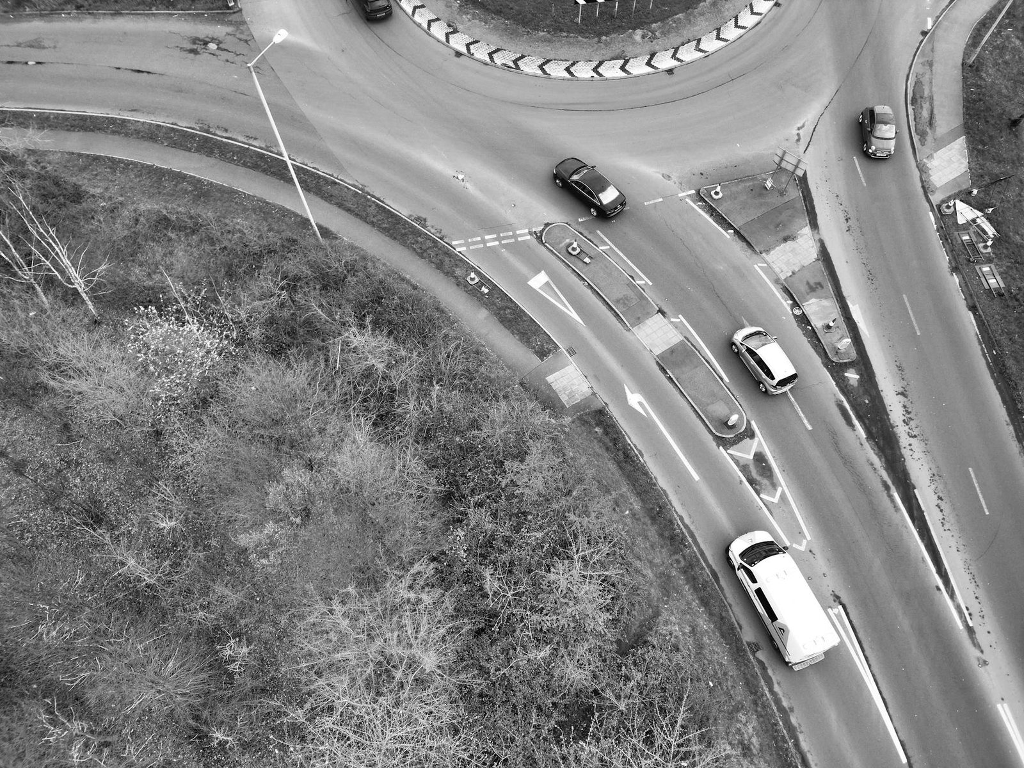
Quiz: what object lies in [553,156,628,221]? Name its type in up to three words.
car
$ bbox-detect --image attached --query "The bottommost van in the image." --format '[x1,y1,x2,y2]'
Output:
[727,536,840,678]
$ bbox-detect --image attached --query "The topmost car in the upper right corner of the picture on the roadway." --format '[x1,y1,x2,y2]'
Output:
[858,104,901,159]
